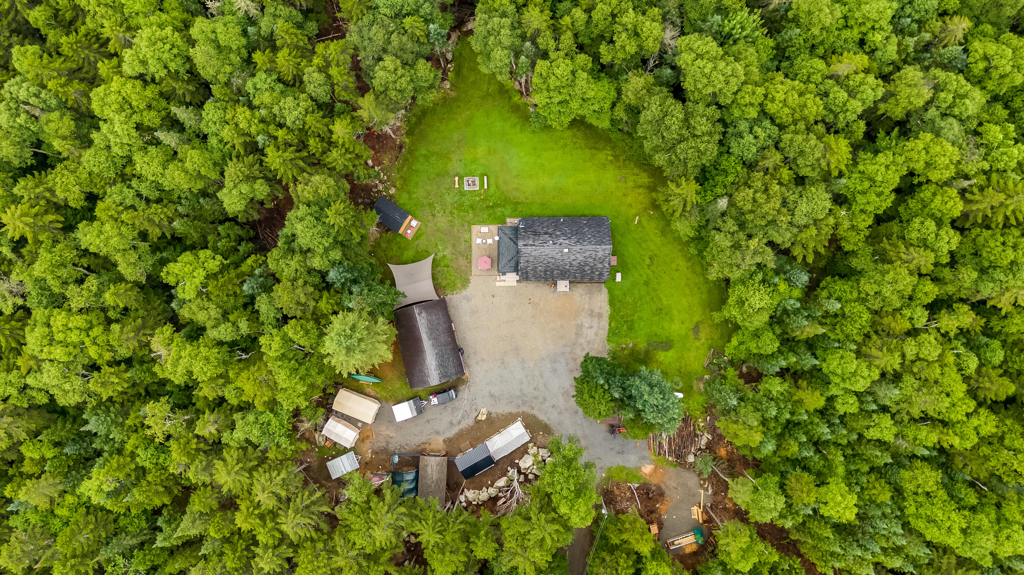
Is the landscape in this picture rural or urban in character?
rural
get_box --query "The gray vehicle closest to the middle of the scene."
[428,388,457,406]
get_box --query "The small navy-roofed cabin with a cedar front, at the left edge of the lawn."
[373,196,422,240]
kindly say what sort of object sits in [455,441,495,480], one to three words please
shed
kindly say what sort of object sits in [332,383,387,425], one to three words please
tent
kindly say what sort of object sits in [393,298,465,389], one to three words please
building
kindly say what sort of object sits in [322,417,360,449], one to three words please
tent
